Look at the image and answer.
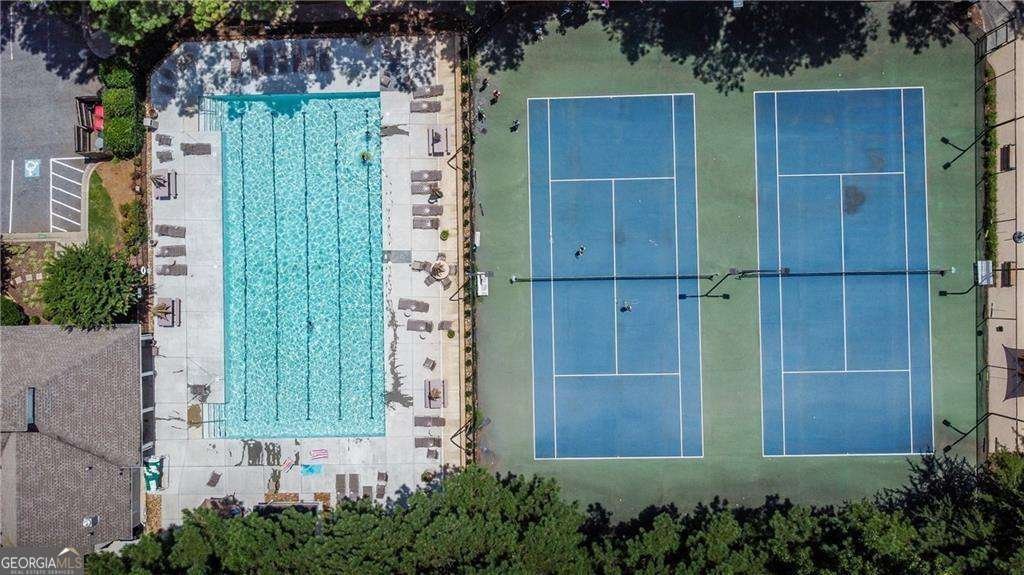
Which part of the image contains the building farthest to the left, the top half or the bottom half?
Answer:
bottom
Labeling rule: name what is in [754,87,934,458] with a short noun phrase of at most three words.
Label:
tennis court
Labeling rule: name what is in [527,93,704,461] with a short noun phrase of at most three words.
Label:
tennis court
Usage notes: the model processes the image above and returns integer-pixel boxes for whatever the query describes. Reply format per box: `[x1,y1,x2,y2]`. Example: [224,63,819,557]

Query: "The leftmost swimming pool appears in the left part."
[199,88,389,442]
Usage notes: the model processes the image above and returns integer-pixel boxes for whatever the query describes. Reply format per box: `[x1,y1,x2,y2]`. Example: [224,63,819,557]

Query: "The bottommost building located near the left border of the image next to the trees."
[0,324,154,575]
